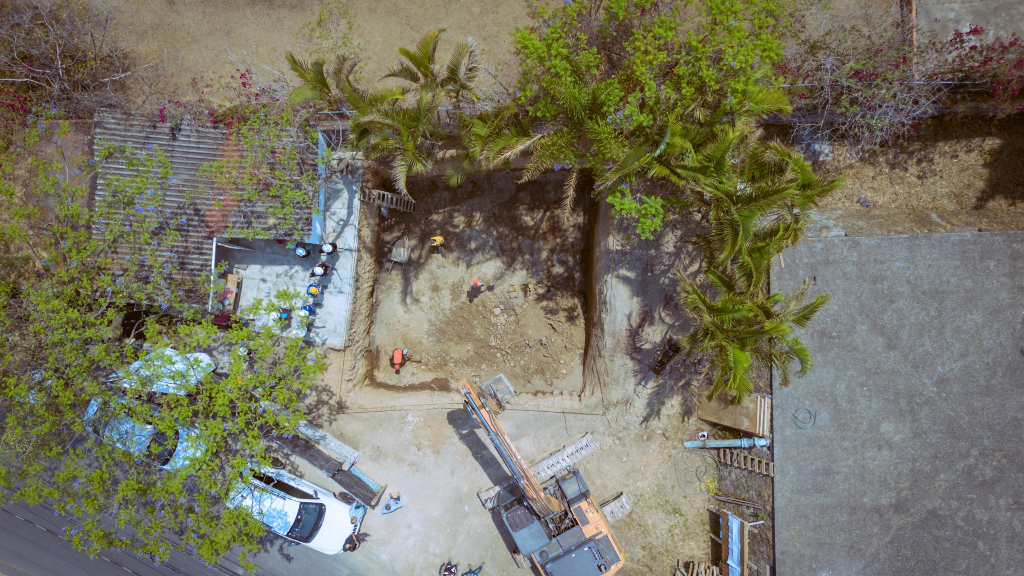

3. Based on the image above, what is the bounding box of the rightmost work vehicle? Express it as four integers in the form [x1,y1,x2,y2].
[460,369,635,576]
